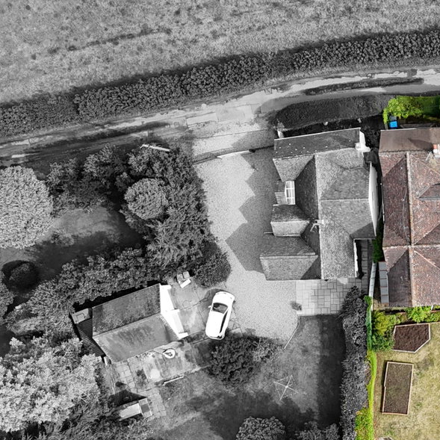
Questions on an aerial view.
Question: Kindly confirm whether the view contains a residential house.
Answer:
Yes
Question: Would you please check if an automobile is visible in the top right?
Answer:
No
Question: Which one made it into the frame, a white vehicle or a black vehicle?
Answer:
white vehicle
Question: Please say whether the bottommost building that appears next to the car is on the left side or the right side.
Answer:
left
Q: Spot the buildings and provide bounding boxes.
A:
[379,127,440,306]
[260,126,377,280]
[93,284,188,362]
[119,398,154,417]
